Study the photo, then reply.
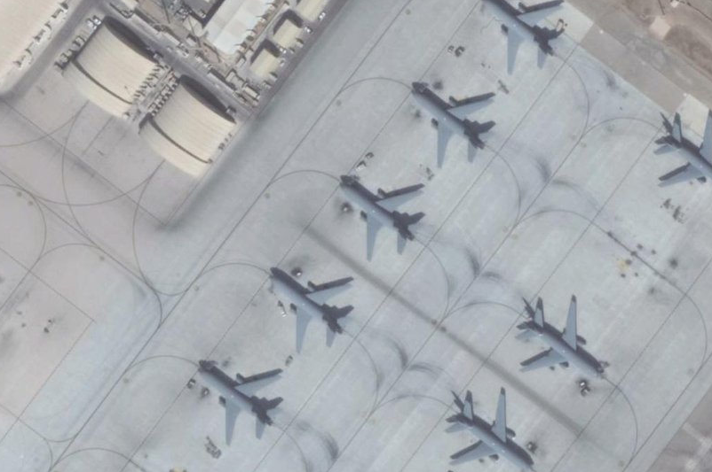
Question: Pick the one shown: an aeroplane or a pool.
aeroplane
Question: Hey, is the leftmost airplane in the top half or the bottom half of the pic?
bottom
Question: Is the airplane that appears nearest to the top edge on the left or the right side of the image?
right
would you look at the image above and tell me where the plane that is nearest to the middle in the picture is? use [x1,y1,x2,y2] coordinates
[341,183,424,264]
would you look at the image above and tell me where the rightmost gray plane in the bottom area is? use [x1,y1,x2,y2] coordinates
[516,296,603,376]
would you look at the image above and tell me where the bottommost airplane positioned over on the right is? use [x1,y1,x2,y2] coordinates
[445,391,532,472]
